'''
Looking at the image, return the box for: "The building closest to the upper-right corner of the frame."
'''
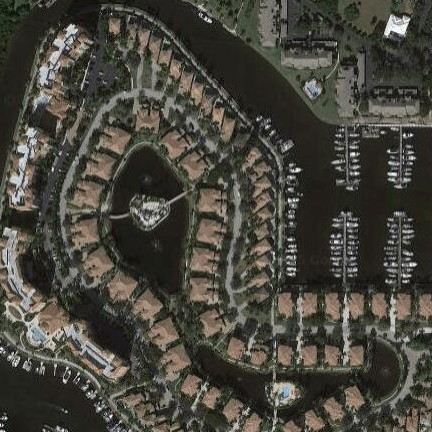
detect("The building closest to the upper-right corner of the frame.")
[384,14,410,38]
